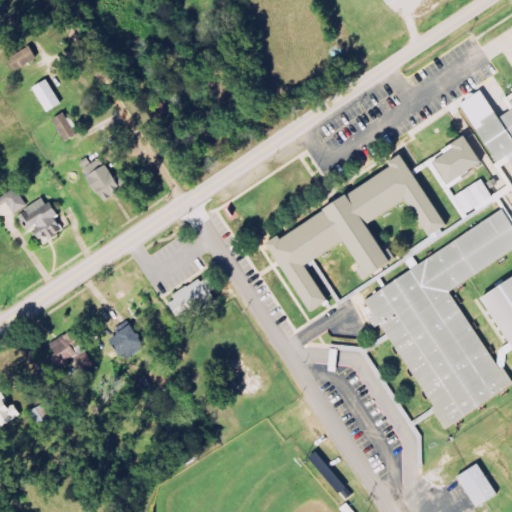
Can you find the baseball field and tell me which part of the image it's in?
bottom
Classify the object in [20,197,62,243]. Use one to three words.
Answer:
house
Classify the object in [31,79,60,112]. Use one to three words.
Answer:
barn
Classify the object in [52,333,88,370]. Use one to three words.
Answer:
house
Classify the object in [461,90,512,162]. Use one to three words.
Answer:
building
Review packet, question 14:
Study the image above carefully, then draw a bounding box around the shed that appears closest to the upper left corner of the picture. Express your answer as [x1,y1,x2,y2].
[8,46,34,69]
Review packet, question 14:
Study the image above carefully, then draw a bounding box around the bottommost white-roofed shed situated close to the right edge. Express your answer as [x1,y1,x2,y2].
[457,464,497,508]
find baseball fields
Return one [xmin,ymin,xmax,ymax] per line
[154,418,341,512]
